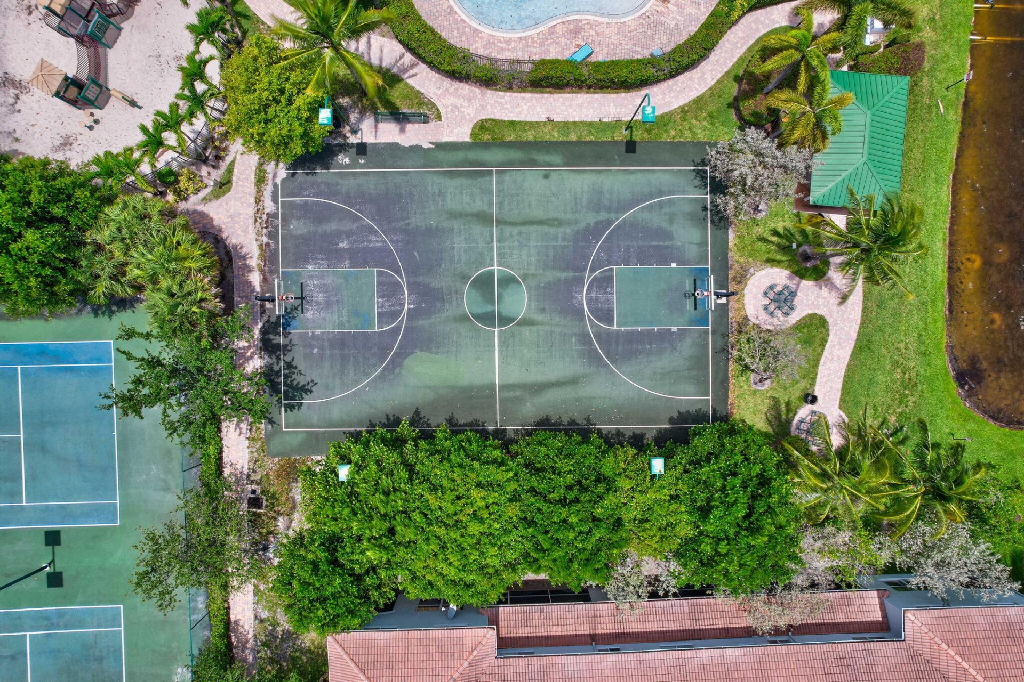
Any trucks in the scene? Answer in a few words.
No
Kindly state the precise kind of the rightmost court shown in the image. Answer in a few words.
basketball court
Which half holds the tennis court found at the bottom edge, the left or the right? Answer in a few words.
left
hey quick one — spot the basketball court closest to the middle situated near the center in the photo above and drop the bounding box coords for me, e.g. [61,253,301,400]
[262,141,729,457]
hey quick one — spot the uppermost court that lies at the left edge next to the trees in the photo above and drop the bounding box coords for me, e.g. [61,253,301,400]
[0,341,118,530]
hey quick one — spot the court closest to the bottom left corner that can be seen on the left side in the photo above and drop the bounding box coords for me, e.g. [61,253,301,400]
[0,605,125,682]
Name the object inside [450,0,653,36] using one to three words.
swimming pool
